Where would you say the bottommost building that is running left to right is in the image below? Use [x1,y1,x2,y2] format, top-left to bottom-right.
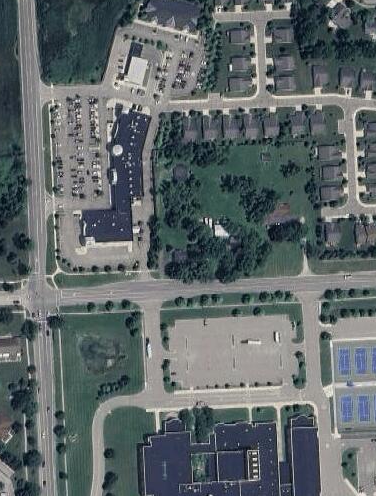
[143,415,320,496]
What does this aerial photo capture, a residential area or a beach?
residential area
